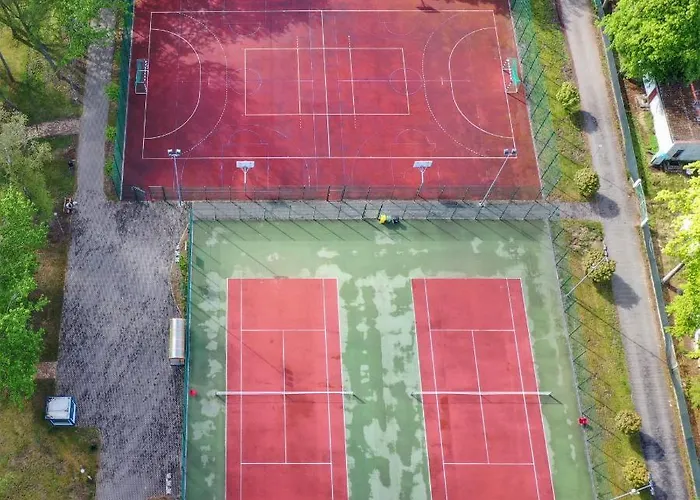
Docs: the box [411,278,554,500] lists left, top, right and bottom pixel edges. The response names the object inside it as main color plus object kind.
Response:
red tennis court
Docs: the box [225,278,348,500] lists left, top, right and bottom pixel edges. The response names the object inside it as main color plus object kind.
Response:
red tennis court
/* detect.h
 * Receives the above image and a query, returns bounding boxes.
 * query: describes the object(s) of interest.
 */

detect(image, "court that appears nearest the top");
[120,0,543,201]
